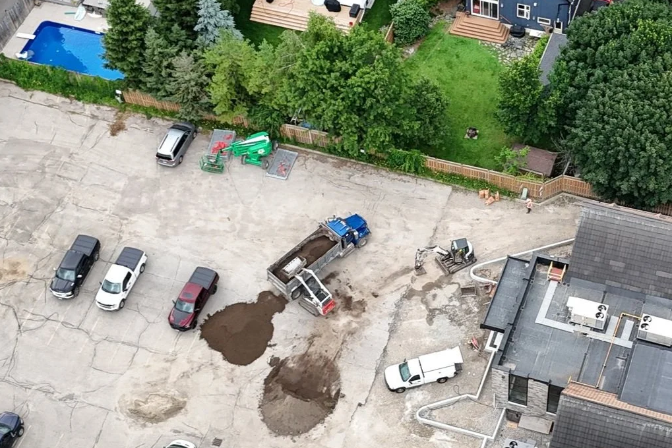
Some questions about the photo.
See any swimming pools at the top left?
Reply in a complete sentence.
Yes, the scene does show a swimming pool at the top left.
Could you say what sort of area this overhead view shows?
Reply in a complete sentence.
This looks like a parking lot.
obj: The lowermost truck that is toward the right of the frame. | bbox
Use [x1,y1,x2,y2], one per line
[381,343,465,395]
